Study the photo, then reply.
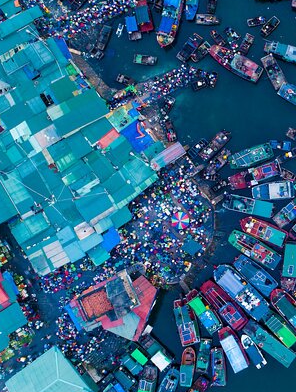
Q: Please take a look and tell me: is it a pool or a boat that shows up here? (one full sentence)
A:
Looking from above, you can make out a boat.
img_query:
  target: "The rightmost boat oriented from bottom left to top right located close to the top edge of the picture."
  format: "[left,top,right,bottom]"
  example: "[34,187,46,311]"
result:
[260,15,280,36]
